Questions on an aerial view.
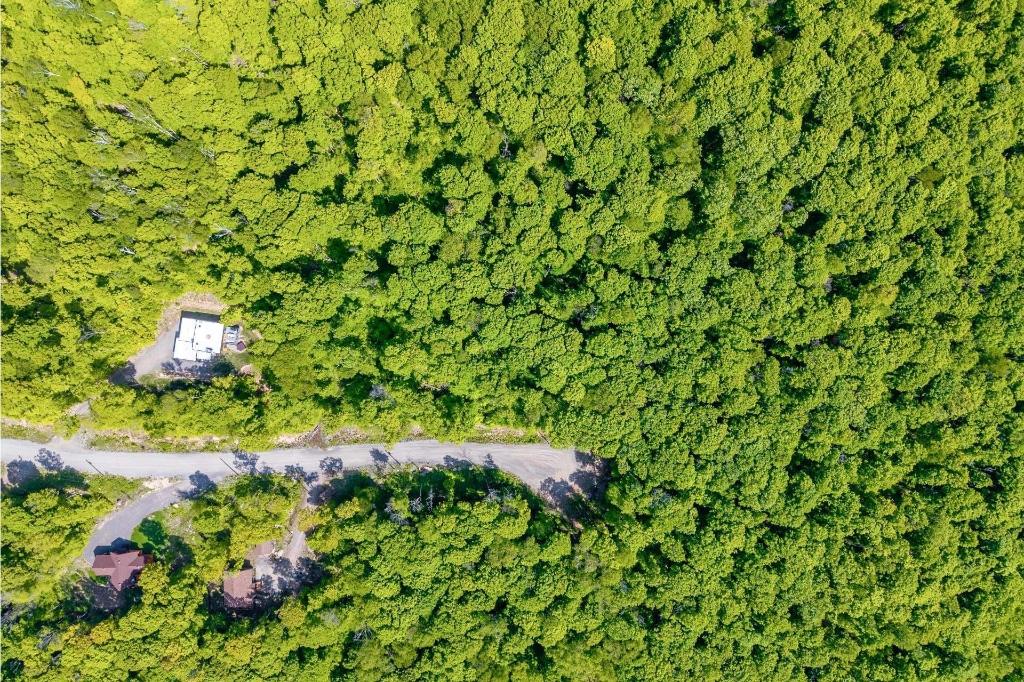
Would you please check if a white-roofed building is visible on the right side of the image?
No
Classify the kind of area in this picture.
forest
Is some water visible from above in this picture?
No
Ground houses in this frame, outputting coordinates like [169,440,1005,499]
[223,567,263,611]
[173,318,230,361]
[92,549,154,591]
